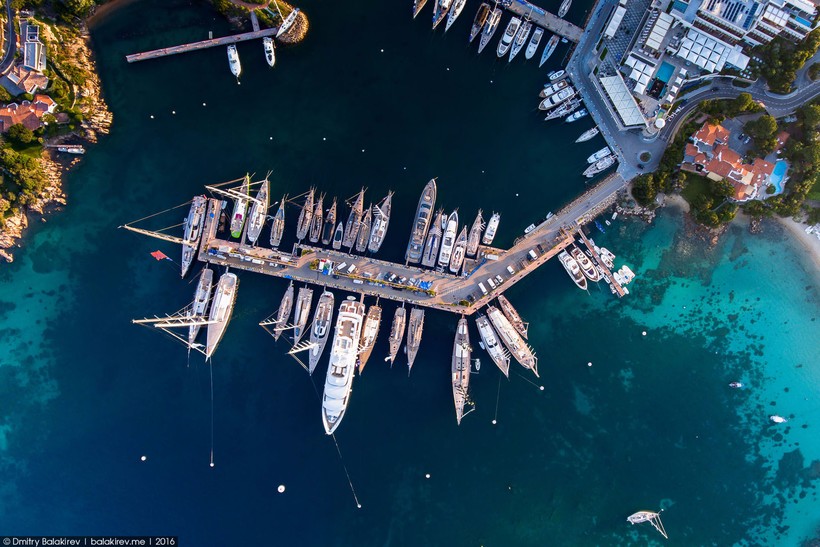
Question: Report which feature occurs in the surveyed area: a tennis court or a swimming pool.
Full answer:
I can see a swimming pool in this picture.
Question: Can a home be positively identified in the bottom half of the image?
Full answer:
No, the scene shows no home in the bottom half of the image.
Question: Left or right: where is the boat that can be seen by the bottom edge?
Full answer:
It is on the right.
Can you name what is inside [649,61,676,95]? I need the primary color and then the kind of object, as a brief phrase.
blue swimming pool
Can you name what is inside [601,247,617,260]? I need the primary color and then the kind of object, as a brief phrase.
white boat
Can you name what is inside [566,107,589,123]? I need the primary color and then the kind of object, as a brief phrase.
blue boat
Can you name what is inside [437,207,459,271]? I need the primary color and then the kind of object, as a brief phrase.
white boat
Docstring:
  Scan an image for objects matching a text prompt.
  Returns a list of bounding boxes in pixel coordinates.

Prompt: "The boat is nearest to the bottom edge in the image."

[627,511,669,538]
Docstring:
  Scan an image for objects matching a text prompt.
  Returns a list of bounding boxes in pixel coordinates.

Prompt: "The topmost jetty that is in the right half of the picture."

[485,0,583,43]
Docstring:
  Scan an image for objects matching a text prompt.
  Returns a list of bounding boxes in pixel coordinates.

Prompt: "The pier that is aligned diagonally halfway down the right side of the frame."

[577,228,628,299]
